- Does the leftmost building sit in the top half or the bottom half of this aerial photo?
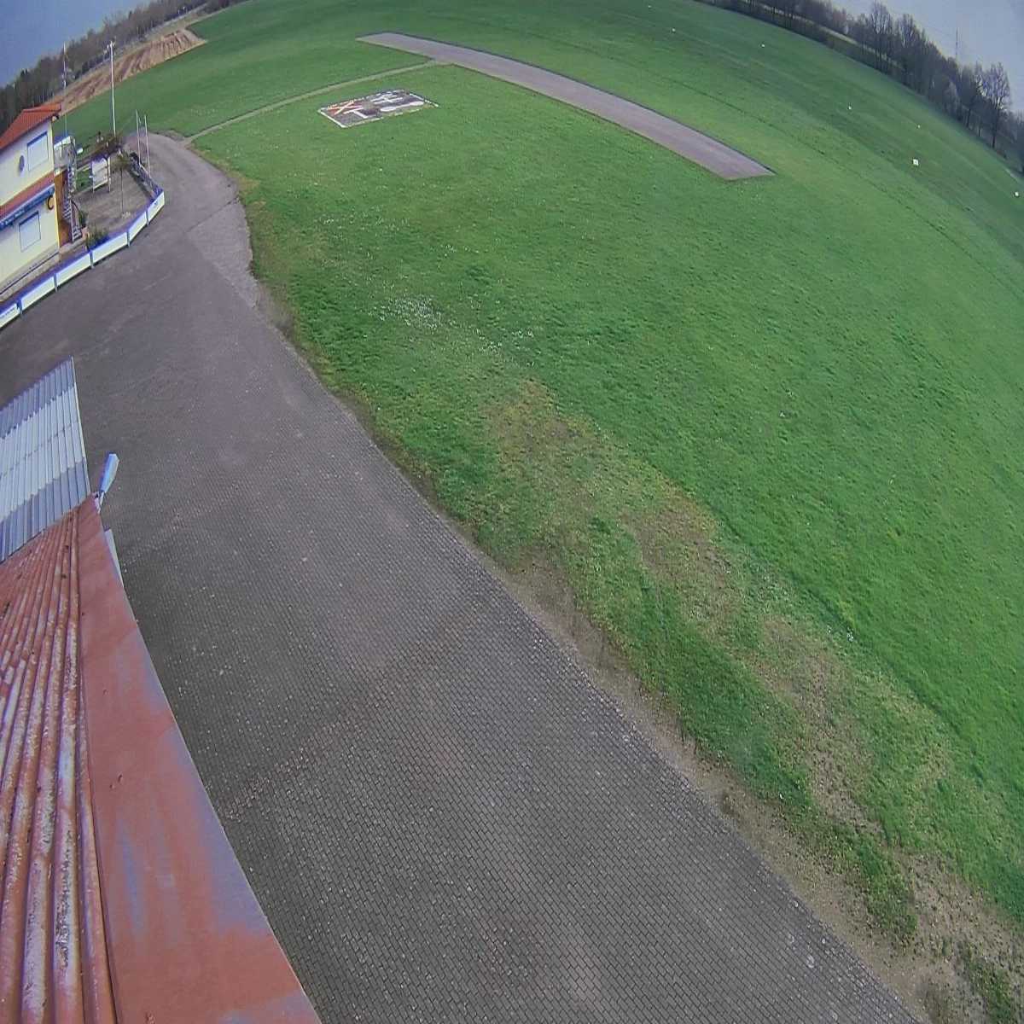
top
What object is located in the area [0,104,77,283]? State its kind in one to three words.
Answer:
building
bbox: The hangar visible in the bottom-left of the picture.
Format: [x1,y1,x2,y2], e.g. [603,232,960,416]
[0,498,327,1024]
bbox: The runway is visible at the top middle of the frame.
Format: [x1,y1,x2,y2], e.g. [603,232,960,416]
[358,33,772,179]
